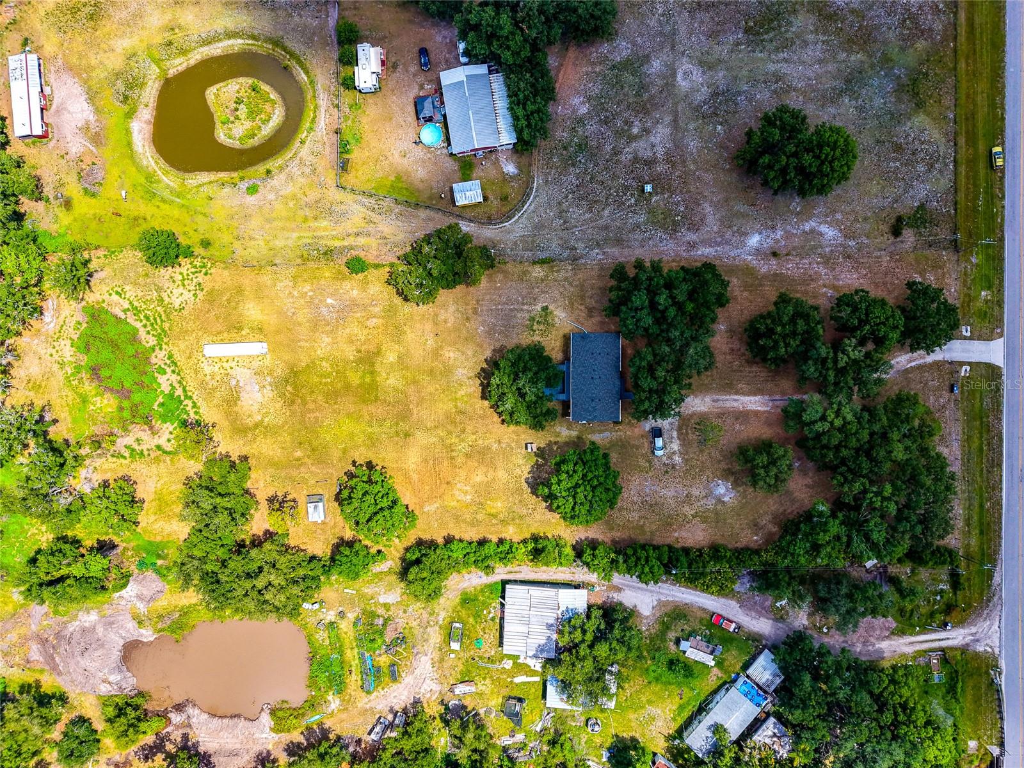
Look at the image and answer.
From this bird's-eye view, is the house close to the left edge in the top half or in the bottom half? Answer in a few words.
top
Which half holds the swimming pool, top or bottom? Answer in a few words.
top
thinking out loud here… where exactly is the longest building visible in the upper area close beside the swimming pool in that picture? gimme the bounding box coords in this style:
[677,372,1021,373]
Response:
[440,64,500,161]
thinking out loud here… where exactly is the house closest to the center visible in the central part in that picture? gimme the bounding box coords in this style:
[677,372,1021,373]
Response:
[543,321,632,422]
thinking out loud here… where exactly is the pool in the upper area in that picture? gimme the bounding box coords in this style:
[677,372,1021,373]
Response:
[420,124,442,147]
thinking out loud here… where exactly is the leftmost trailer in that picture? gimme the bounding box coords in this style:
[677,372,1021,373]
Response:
[203,342,271,357]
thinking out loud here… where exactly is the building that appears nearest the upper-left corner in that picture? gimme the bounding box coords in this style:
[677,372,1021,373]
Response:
[9,52,66,143]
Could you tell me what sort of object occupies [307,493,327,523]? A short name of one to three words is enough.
shed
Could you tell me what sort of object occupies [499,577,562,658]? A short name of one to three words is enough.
building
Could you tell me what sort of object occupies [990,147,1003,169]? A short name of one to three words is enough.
vehicle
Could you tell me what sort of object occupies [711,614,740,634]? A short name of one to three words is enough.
vehicle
